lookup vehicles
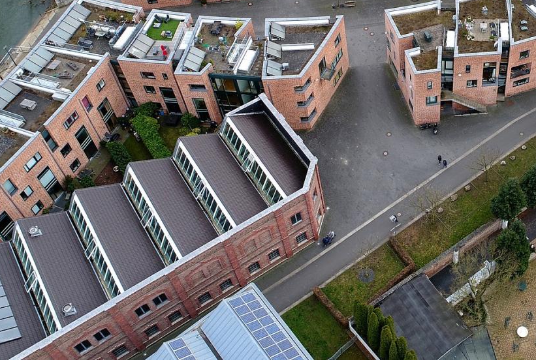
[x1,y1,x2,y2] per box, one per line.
[418,120,432,127]
[433,120,439,134]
